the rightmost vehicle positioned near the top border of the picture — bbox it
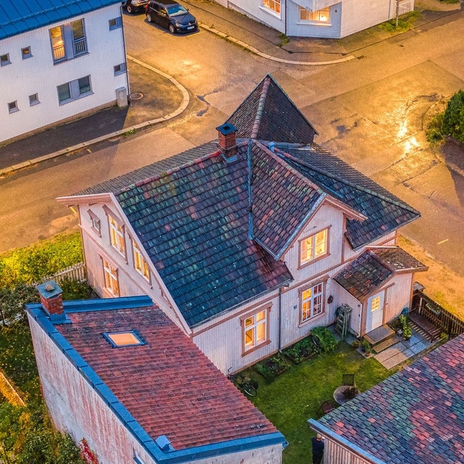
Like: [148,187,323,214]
[137,0,201,34]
